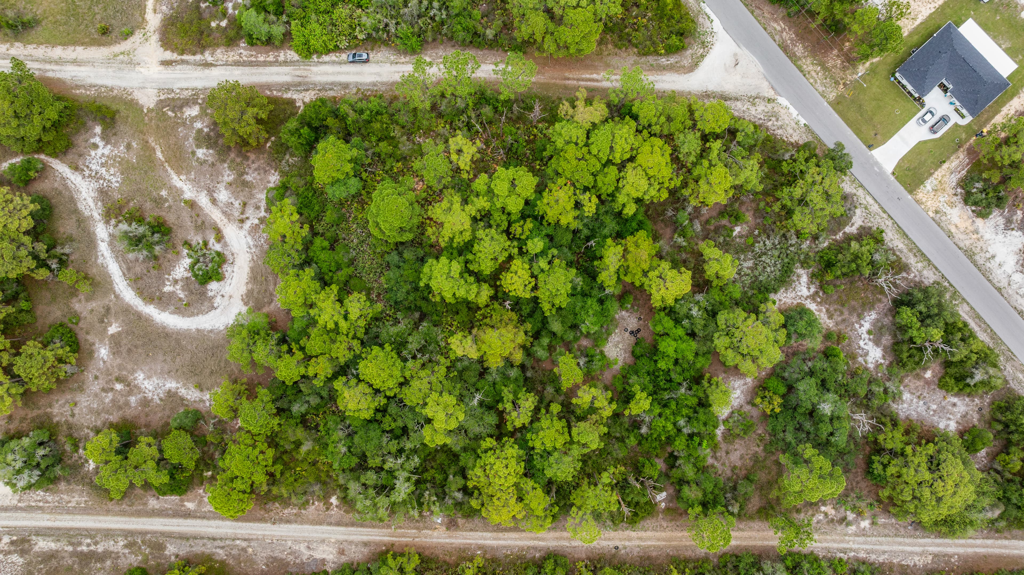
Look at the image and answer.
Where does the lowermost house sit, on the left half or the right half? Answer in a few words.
right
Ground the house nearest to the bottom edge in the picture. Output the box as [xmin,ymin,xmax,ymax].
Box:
[896,20,1012,120]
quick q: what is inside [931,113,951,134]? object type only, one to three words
car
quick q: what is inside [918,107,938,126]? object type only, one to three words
car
